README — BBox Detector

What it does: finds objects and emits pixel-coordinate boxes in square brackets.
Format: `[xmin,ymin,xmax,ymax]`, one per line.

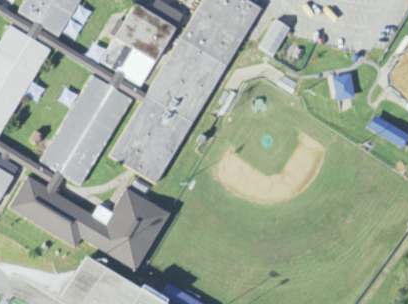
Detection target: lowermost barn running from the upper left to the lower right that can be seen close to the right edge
[368,114,408,148]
